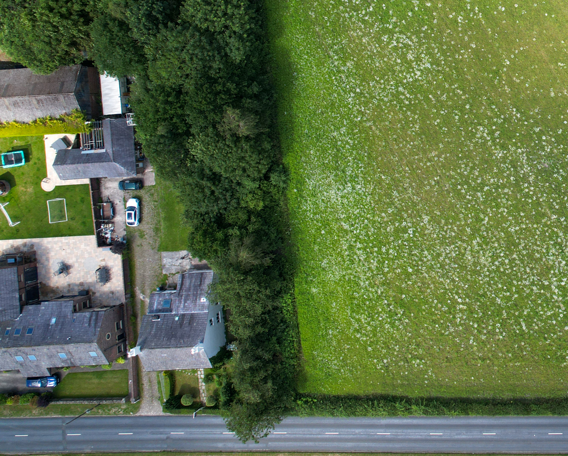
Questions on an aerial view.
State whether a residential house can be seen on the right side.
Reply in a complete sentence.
No, no residential house appears on the right side.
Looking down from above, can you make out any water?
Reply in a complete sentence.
No, the scene doesn't show any water.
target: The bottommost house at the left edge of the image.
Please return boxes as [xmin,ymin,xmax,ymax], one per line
[0,263,124,378]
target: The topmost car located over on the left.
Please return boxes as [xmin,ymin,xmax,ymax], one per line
[119,179,144,191]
